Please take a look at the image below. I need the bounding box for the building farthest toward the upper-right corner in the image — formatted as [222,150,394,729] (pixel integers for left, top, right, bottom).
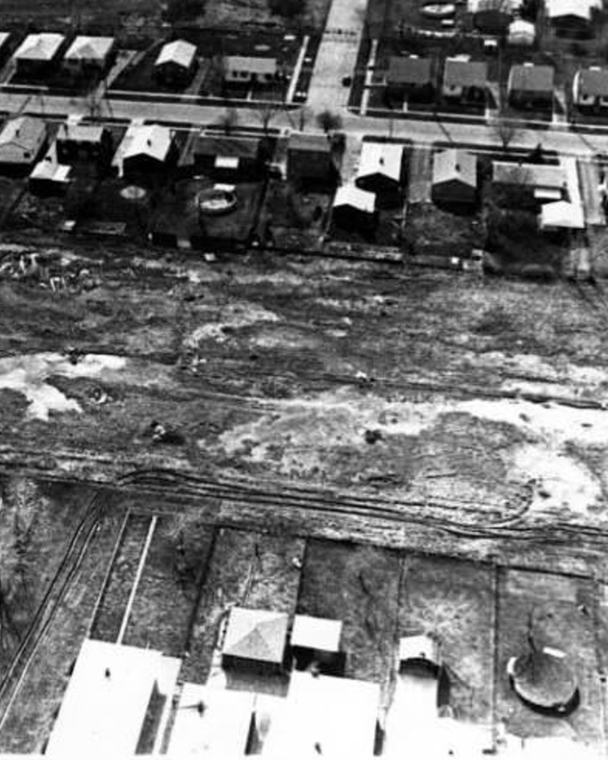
[536,0,600,29]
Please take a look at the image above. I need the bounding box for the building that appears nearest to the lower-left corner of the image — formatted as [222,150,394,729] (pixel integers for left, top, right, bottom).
[45,640,181,760]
